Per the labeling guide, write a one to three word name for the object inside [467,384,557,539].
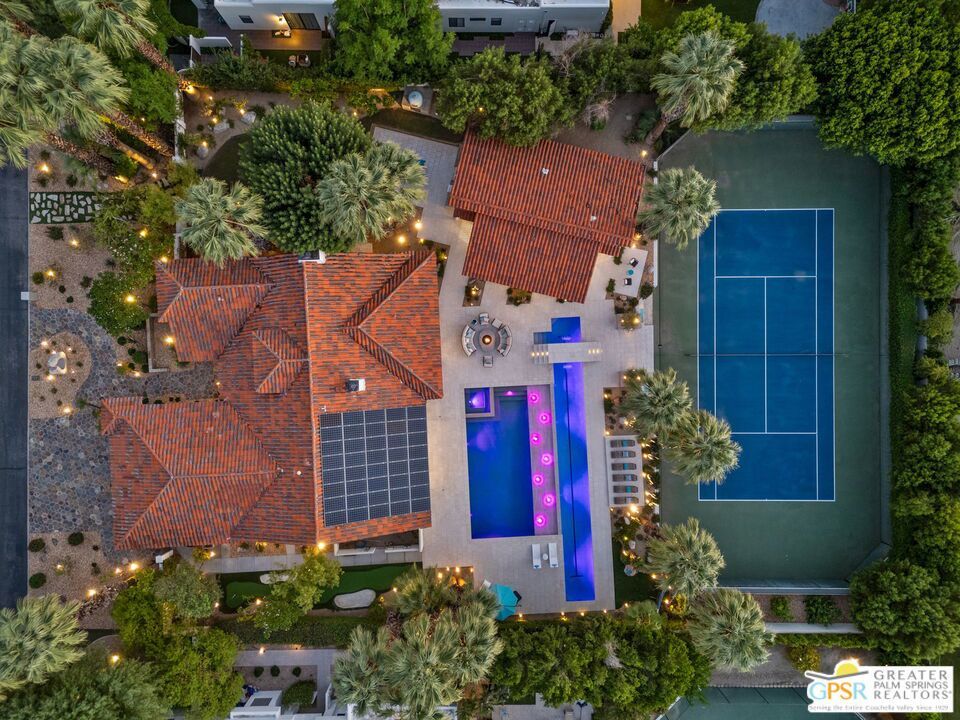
swimming pool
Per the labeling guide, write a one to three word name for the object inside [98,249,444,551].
house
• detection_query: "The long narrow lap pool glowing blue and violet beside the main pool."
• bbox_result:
[534,317,595,601]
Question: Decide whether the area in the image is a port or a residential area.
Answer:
residential area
